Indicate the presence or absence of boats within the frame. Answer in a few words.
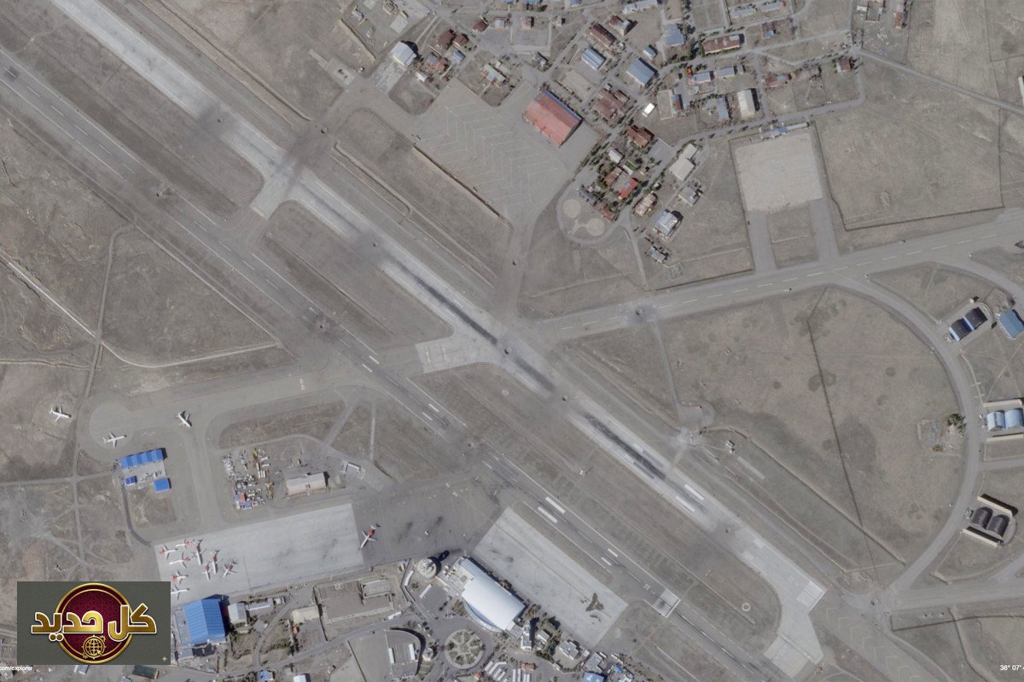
No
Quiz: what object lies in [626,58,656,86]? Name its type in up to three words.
building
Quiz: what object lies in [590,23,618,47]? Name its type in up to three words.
building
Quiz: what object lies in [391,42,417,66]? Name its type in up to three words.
hangar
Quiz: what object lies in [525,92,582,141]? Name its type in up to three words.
hangar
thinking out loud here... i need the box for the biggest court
[657,90,677,120]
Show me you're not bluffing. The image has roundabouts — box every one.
[445,630,483,668]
